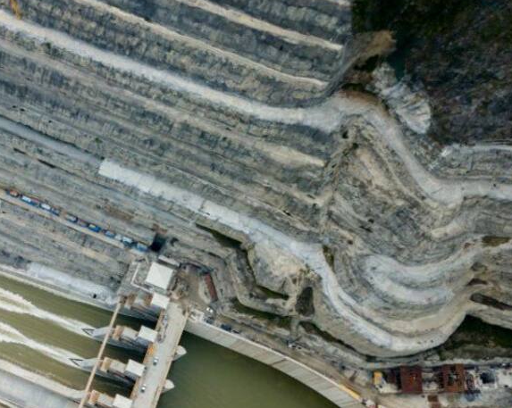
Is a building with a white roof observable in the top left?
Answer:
No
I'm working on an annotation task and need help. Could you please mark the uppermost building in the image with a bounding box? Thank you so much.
[146,263,174,295]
